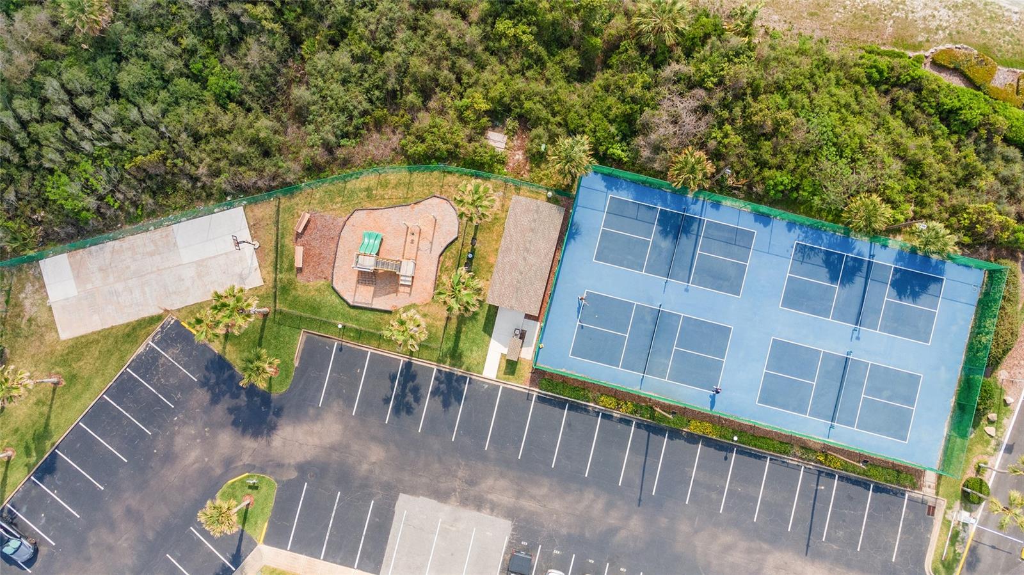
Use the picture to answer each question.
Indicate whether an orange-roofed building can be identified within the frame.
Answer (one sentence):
No, no orange-roofed building is visible in the scene.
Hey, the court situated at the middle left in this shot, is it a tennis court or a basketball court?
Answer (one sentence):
The court situated at the middle left appears to be a basketball court.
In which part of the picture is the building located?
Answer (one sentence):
The building is in the center part of the image.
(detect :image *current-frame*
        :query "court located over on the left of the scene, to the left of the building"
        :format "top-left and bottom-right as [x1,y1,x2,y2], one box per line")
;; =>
[39,206,263,340]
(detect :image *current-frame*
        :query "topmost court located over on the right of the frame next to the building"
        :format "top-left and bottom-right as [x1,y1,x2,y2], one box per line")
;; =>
[594,196,755,297]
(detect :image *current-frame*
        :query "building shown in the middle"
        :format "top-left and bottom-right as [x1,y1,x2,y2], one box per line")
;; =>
[485,195,564,316]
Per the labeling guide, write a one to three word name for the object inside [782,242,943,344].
sports court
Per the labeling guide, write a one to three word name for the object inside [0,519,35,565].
car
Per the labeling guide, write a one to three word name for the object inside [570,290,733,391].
sports court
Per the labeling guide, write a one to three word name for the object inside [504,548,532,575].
truck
